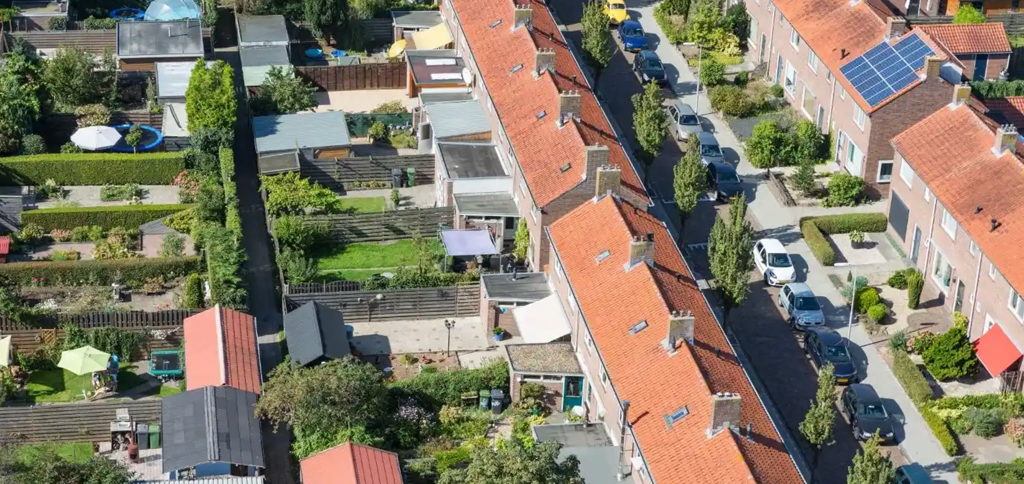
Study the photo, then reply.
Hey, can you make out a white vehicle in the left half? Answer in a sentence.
No, there's no white vehicle to be seen in the left half.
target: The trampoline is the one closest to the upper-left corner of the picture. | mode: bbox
[108,7,145,22]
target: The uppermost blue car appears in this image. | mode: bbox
[613,19,645,52]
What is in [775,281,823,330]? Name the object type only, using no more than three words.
car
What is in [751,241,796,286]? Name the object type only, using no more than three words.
car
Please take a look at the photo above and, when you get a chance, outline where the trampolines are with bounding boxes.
[108,7,145,22]
[111,126,163,154]
[146,351,179,387]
